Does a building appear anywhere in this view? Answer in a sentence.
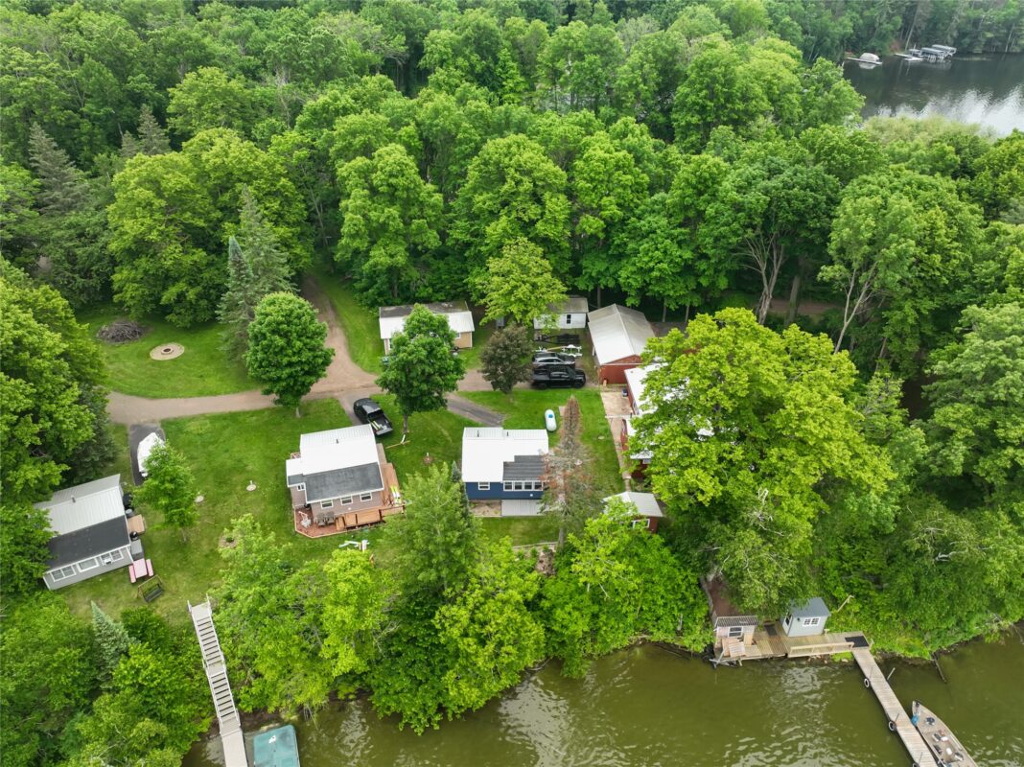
Yes, this view includes a building.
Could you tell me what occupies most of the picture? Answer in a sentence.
What you mostly see from above here is trees.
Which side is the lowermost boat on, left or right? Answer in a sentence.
The lowermost boat is on the right side of the image.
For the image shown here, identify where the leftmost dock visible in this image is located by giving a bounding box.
[220,716,250,767]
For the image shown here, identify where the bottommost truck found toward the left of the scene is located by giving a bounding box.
[352,394,388,430]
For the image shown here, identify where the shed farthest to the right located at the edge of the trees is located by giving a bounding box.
[779,590,833,637]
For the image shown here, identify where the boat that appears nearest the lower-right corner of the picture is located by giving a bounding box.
[911,702,972,767]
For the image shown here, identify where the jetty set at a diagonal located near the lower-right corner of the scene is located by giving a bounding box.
[852,647,938,767]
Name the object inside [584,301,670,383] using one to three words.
building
